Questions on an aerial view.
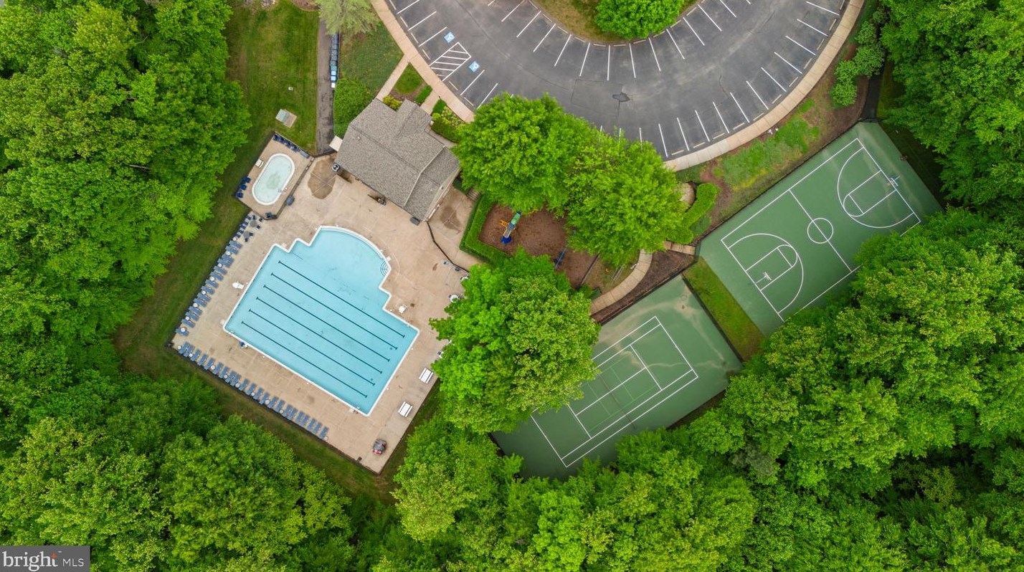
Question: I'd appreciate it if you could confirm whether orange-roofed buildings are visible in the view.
No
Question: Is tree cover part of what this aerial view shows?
Yes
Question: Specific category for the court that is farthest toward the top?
basketball court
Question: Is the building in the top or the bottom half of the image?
top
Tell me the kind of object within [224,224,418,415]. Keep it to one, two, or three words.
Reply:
swimming pool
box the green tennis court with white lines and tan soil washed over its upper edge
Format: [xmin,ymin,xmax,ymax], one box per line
[483,279,751,502]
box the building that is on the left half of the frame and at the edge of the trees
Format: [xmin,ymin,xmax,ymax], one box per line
[329,99,461,221]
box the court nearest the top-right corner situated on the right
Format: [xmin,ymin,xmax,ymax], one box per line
[697,119,945,351]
